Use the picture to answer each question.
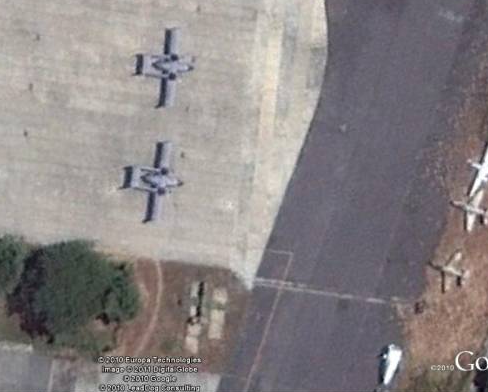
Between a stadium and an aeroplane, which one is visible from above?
aeroplane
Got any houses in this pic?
No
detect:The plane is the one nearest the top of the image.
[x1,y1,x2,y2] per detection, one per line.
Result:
[141,29,194,106]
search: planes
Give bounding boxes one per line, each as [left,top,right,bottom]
[428,251,469,291]
[130,142,185,221]
[450,189,488,233]
[141,29,194,106]
[467,144,488,198]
